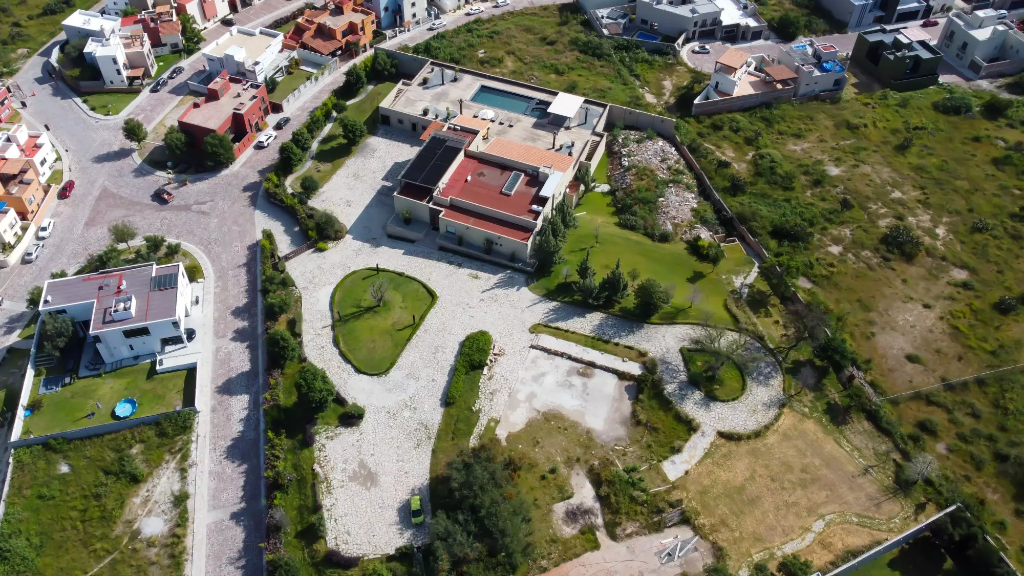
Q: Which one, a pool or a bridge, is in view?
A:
pool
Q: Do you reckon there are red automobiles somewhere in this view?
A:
Yes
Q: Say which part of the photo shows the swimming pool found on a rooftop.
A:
top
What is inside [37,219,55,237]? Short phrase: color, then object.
white car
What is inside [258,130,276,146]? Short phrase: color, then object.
white car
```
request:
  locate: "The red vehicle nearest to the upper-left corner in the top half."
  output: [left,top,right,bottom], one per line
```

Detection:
[58,181,75,197]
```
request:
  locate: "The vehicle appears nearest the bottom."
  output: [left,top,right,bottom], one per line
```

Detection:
[410,497,424,522]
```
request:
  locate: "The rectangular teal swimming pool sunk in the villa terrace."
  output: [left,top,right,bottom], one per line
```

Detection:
[466,83,554,122]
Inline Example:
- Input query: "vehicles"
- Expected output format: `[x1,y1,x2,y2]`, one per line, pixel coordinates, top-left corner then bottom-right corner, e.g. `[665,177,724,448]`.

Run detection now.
[151,77,168,91]
[429,20,447,30]
[494,0,512,8]
[331,48,342,56]
[410,497,424,522]
[468,6,485,15]
[154,186,174,201]
[922,19,939,28]
[58,181,75,197]
[186,330,197,341]
[693,45,712,54]
[220,17,237,25]
[258,130,276,146]
[37,219,55,237]
[168,65,185,78]
[274,116,292,129]
[997,9,1010,19]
